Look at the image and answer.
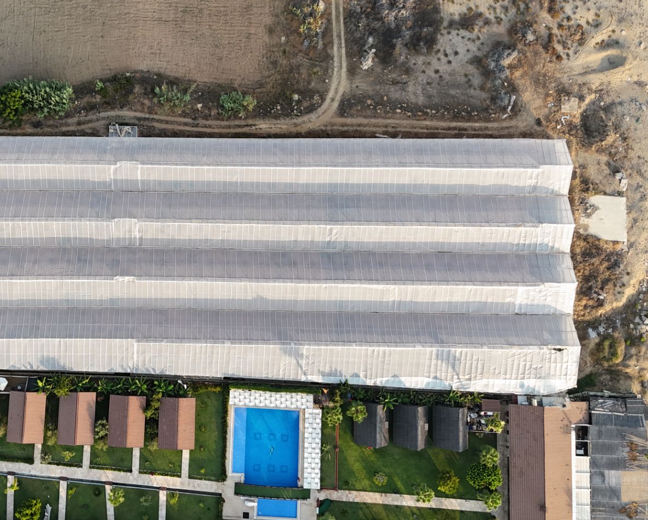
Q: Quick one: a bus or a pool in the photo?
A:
pool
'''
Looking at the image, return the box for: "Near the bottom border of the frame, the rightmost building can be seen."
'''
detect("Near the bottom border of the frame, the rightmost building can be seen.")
[505,402,590,520]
